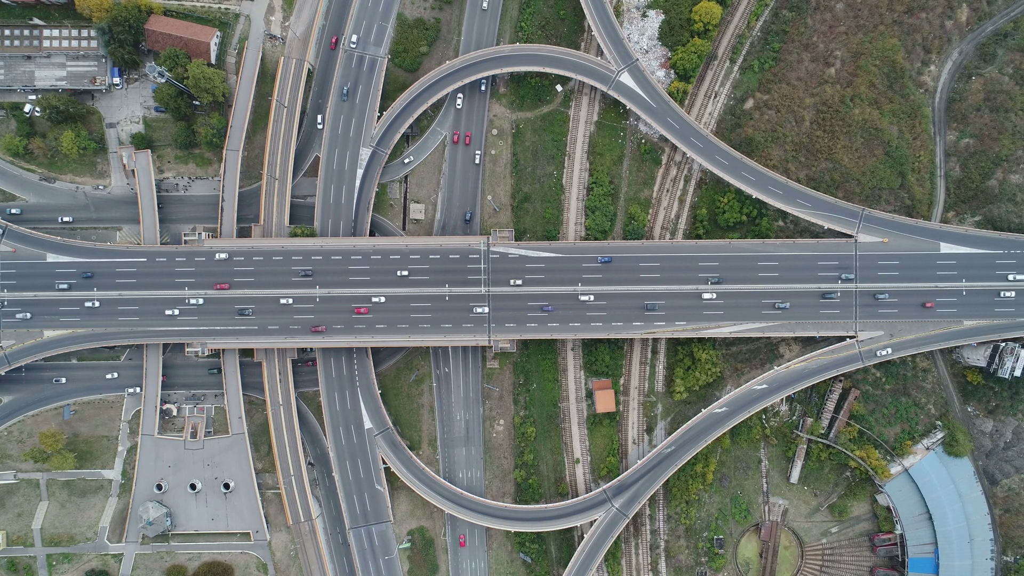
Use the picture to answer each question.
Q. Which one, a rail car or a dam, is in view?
rail car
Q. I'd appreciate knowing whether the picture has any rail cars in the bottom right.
Yes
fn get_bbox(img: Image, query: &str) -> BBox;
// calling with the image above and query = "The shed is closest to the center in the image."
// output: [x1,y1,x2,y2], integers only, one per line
[589,379,616,413]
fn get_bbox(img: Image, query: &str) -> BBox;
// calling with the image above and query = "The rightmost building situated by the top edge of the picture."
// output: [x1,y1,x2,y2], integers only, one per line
[144,15,224,65]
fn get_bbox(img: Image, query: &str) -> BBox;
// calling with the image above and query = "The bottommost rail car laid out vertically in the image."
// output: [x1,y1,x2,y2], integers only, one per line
[785,415,813,483]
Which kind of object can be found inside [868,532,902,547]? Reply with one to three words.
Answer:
rail car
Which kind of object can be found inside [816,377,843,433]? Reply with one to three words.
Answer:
rail car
